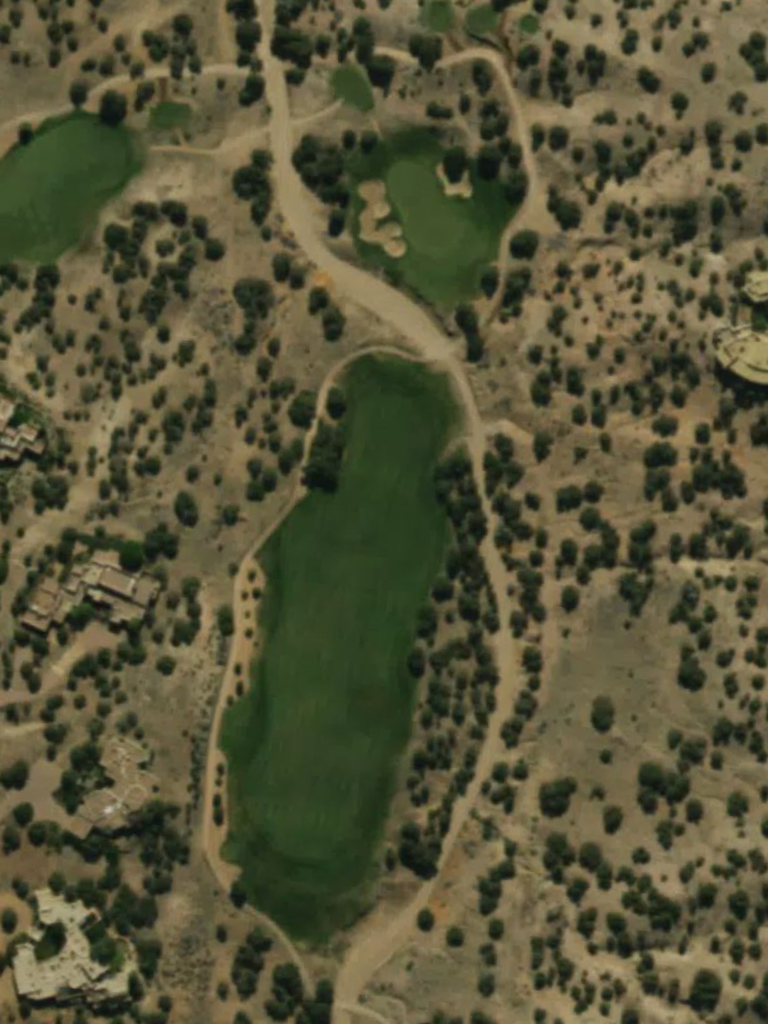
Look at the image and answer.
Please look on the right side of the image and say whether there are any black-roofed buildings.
No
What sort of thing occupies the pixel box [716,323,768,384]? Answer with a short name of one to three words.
house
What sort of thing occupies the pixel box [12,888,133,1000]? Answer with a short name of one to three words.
house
